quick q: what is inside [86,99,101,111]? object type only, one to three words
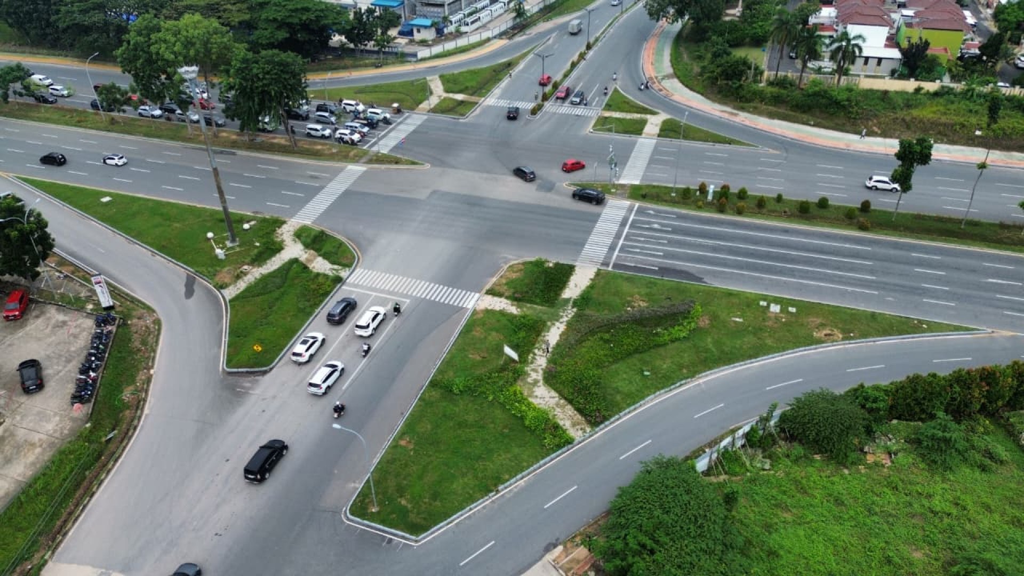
vehicle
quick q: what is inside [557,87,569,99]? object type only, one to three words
vehicle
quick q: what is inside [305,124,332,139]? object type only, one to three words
car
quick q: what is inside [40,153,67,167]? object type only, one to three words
car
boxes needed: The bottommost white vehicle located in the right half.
[863,176,900,193]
